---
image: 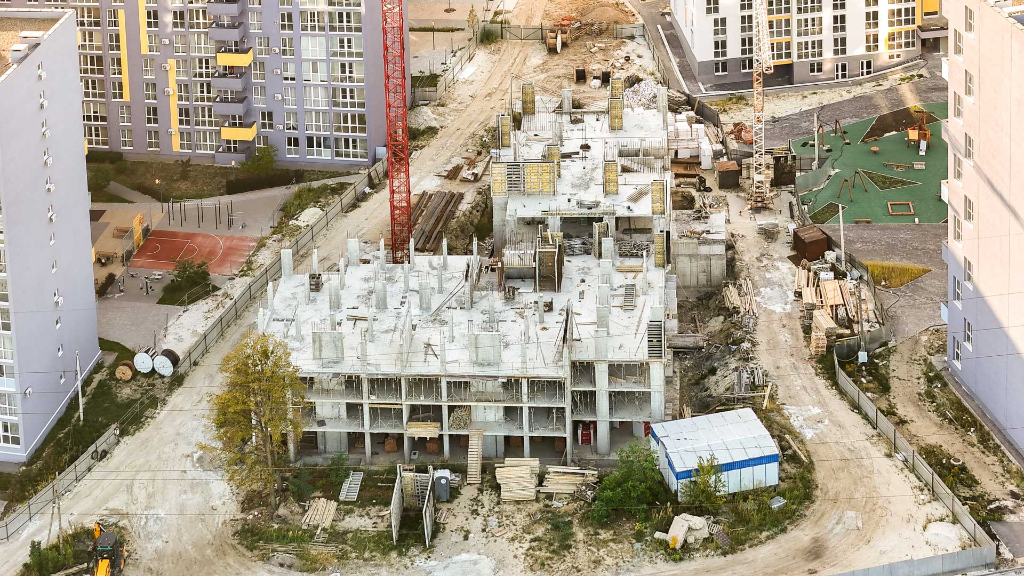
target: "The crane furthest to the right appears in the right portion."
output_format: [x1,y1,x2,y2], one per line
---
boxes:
[733,0,790,217]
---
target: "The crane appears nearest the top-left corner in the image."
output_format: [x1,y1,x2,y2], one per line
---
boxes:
[379,0,415,263]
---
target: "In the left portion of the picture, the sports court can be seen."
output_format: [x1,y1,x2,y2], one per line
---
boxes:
[128,230,262,275]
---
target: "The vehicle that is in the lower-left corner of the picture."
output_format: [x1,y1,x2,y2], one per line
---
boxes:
[92,527,125,576]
